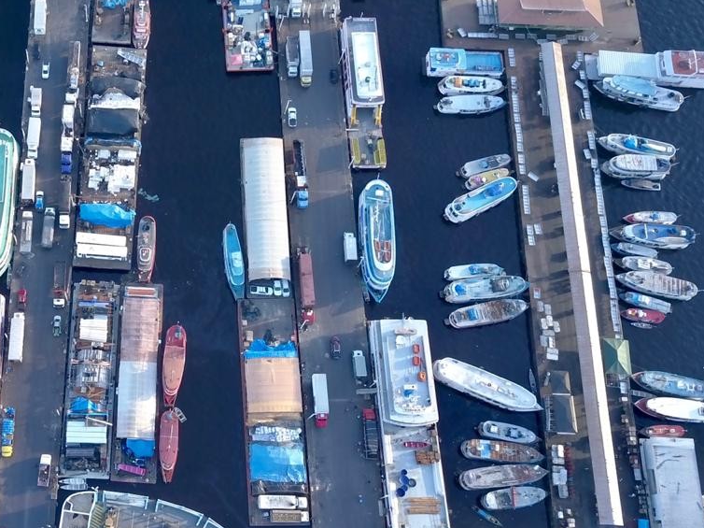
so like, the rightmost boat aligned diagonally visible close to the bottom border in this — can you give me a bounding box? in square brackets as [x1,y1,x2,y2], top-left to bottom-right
[473,505,504,527]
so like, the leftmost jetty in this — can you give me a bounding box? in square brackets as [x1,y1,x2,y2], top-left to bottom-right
[0,0,93,528]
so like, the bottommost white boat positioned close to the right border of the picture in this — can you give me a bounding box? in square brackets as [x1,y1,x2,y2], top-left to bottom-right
[629,395,704,425]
